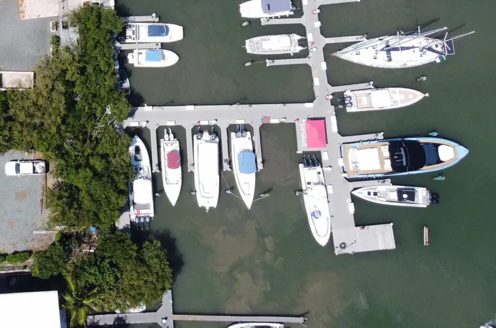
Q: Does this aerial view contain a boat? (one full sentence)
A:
Yes, this view includes a boat.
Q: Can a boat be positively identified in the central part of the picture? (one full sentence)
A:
Yes, there is a boat in the central part of the picture.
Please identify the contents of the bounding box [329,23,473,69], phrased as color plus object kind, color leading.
white boat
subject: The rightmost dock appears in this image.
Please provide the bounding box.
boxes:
[261,0,396,254]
